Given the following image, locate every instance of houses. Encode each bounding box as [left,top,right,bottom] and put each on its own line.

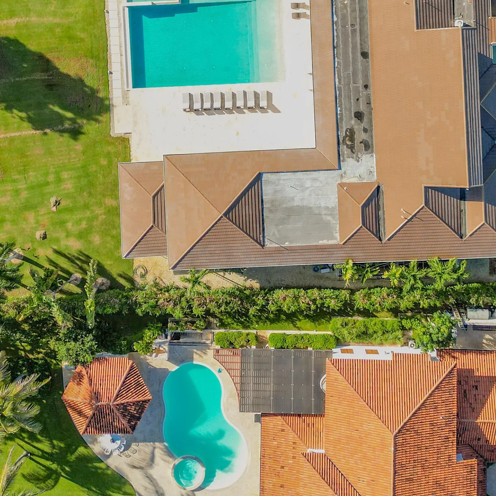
[118,0,496,271]
[260,340,496,496]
